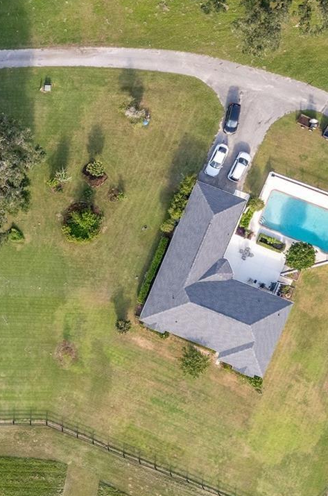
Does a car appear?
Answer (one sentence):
Yes, this view includes a car.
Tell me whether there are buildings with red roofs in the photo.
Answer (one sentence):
No, no building with a red roof is visible in the view.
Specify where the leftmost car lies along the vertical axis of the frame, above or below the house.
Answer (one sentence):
The leftmost car is located above the house in this view.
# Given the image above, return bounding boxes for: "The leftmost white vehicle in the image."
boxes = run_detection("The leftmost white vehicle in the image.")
[204,142,228,177]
